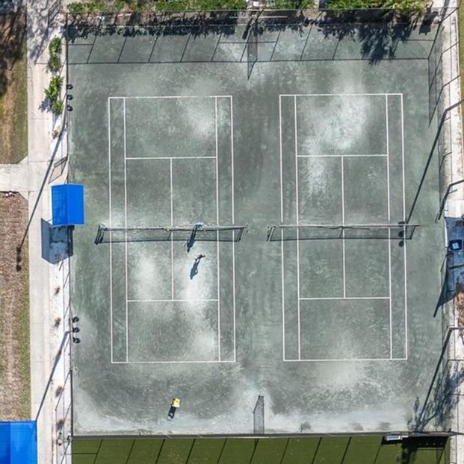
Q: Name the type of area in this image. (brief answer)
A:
sports ground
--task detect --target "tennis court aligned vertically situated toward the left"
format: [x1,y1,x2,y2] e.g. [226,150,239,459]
[68,23,260,434]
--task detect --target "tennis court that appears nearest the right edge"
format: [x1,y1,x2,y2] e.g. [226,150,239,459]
[256,22,449,433]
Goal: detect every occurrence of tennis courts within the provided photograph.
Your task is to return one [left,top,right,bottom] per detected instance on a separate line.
[68,23,260,434]
[256,22,449,433]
